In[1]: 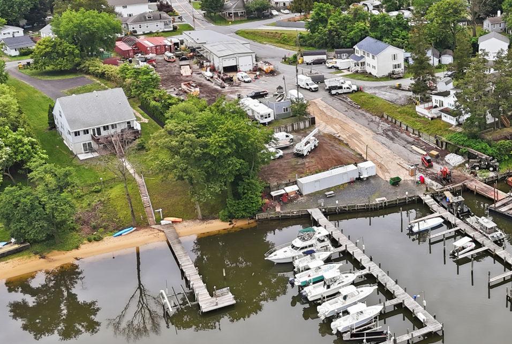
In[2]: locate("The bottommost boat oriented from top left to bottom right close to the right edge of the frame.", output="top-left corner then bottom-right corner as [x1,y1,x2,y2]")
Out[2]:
[467,216,508,245]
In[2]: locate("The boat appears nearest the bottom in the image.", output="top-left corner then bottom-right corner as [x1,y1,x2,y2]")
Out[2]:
[343,328,397,344]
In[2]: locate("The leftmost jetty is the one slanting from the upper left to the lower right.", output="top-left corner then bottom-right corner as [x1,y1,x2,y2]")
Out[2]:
[157,222,237,317]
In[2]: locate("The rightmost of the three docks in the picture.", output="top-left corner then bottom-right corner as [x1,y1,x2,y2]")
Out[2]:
[406,191,512,301]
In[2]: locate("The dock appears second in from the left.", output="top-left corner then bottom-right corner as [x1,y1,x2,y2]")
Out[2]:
[312,204,446,344]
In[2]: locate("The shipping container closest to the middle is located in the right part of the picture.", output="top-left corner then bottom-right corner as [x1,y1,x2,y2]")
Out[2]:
[296,161,358,196]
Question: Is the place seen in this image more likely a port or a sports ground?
port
